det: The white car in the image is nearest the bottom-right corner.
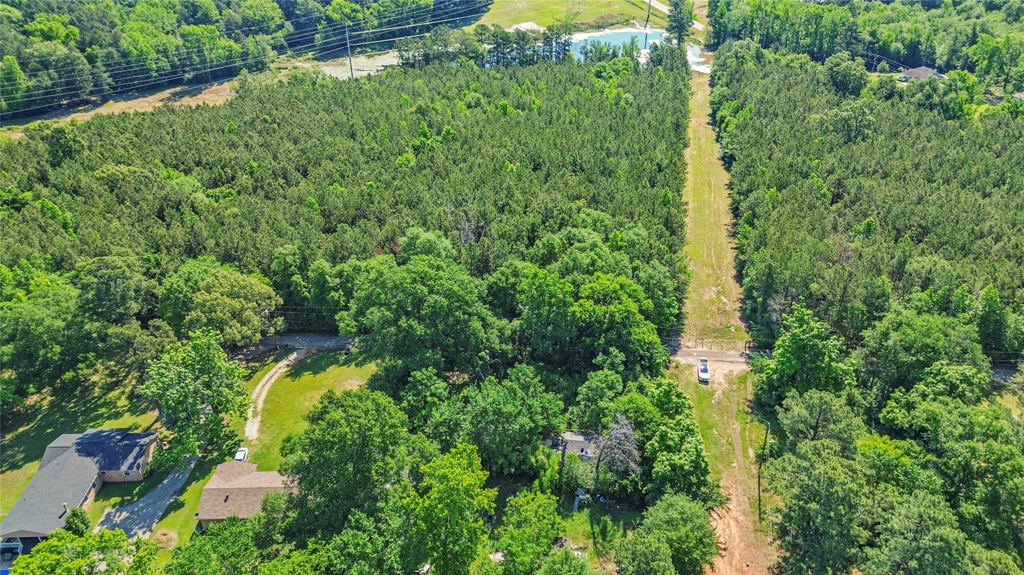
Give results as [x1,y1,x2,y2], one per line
[697,353,711,379]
